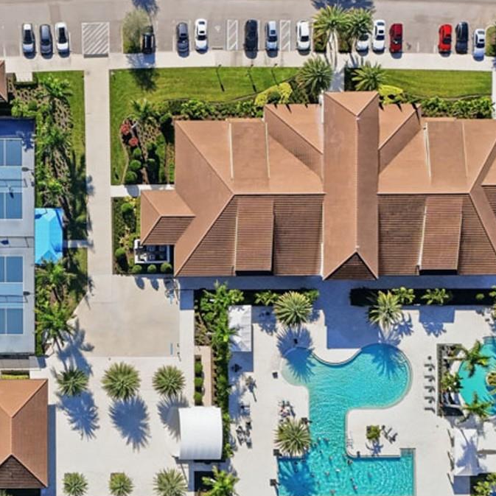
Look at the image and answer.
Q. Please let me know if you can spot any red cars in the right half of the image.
Yes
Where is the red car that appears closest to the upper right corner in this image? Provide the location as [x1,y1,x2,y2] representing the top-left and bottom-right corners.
[436,22,453,55]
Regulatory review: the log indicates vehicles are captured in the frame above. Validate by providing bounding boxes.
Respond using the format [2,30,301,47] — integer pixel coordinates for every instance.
[387,22,404,55]
[295,20,312,53]
[265,22,280,51]
[55,21,70,54]
[371,20,387,53]
[193,18,209,51]
[39,23,54,56]
[176,21,190,54]
[243,18,260,54]
[470,28,487,61]
[22,22,37,55]
[453,22,470,55]
[436,22,453,55]
[142,23,157,56]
